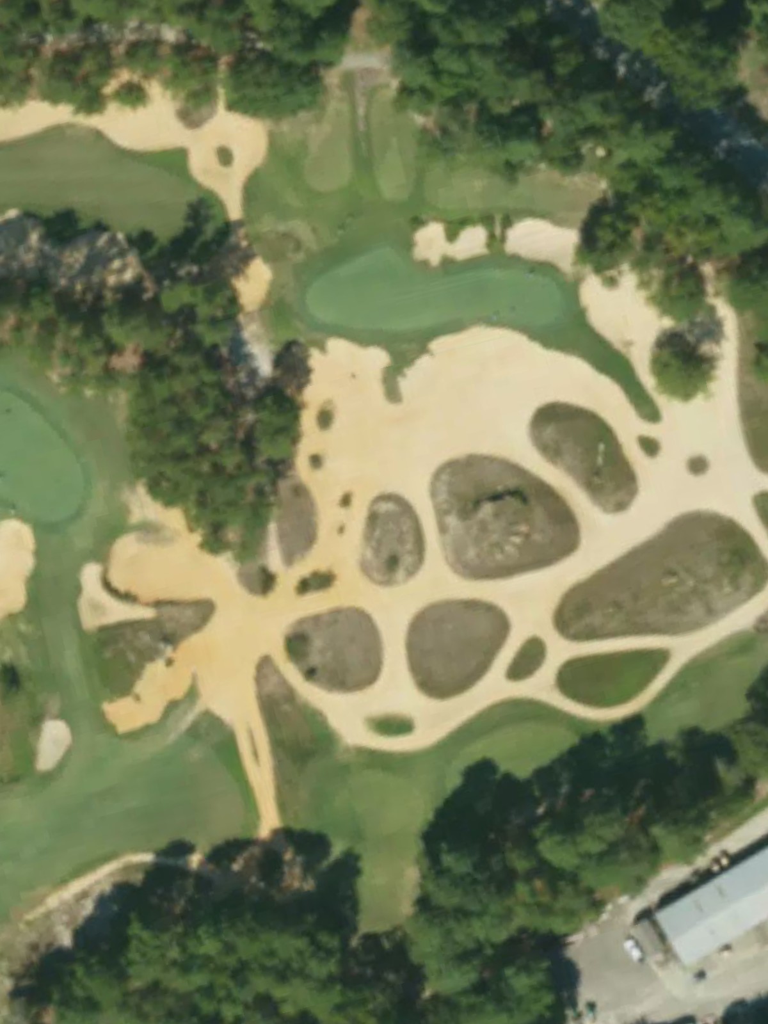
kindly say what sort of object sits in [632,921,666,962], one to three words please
shed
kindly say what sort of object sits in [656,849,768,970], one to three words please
building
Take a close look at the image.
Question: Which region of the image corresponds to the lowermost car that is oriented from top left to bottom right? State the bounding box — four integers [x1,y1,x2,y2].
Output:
[620,936,645,965]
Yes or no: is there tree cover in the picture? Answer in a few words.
Yes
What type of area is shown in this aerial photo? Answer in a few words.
golf course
